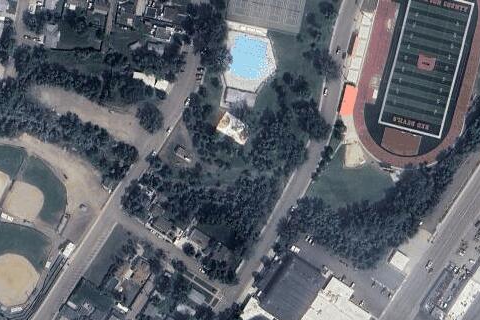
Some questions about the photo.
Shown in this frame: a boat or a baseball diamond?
baseball diamond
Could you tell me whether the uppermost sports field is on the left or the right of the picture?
right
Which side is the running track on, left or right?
right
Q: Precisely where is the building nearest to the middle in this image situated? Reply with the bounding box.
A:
[218,111,247,140]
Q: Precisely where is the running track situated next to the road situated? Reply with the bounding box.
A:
[353,0,480,168]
